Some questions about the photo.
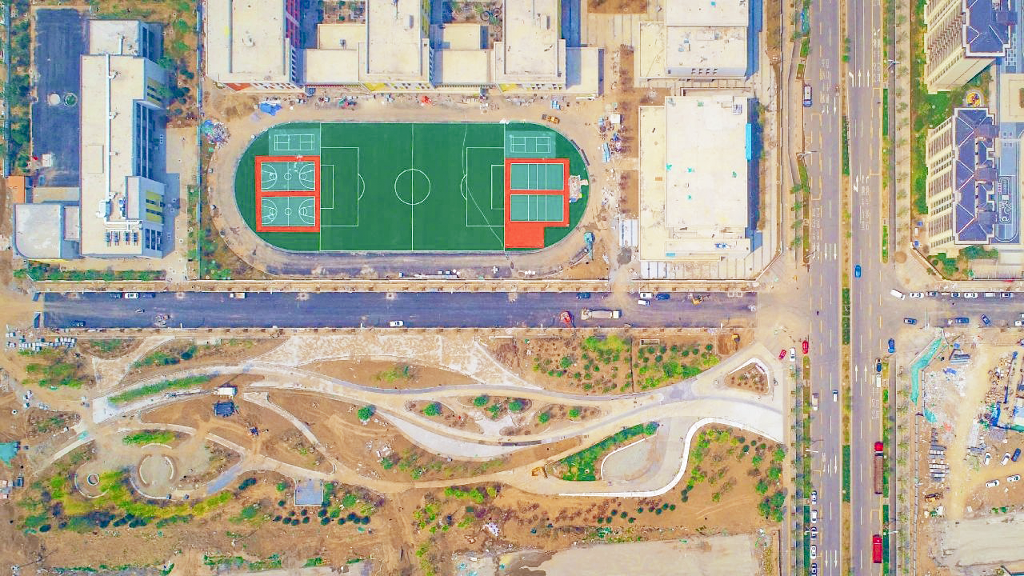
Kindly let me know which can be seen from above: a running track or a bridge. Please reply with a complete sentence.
Visible in the photo is a running track.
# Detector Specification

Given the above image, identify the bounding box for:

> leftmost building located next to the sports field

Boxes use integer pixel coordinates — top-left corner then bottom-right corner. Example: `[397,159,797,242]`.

[80,19,165,256]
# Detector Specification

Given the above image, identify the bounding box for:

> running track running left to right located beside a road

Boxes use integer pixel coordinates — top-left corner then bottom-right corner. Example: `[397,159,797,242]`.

[209,96,614,278]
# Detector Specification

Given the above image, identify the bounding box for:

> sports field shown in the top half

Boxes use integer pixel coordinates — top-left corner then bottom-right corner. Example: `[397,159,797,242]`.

[233,121,590,253]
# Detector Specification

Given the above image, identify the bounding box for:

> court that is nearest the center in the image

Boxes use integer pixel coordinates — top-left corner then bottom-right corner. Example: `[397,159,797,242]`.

[511,194,563,222]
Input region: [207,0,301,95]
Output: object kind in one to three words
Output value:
building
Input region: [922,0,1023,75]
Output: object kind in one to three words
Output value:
building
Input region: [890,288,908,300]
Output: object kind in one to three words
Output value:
vehicle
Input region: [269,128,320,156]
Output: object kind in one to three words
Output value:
sports court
